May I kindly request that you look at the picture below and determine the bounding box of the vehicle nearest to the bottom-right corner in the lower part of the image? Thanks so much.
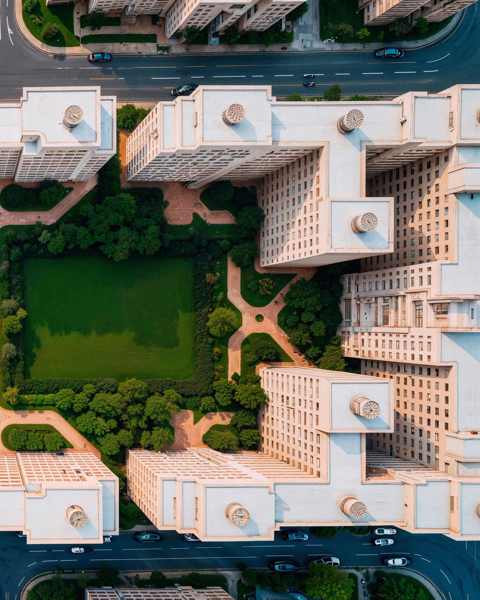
[383,556,410,569]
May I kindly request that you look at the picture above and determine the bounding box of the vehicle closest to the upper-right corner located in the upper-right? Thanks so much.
[374,45,403,59]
